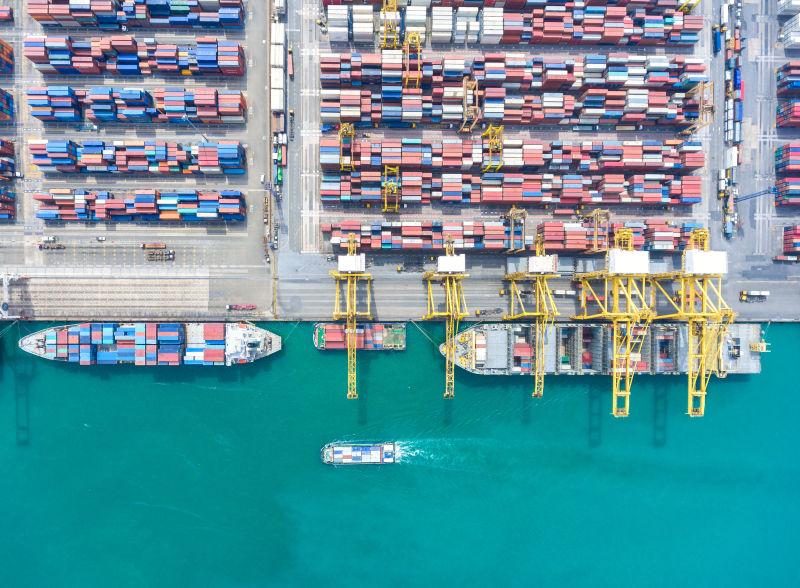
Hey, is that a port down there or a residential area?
port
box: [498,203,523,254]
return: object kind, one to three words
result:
container crane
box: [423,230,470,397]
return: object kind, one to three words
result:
container crane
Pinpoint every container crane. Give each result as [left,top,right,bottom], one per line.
[570,223,654,415]
[480,123,503,173]
[498,203,523,254]
[337,118,358,175]
[402,27,422,90]
[0,273,31,316]
[577,203,606,254]
[331,230,379,397]
[457,77,479,133]
[683,78,719,134]
[382,165,402,214]
[634,223,737,415]
[502,230,562,397]
[423,230,470,397]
